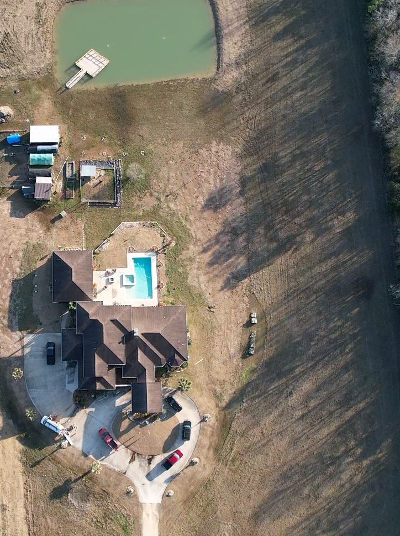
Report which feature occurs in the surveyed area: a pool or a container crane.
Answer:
pool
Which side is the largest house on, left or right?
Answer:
left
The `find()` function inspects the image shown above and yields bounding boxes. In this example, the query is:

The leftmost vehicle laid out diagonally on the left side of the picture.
[40,416,65,436]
